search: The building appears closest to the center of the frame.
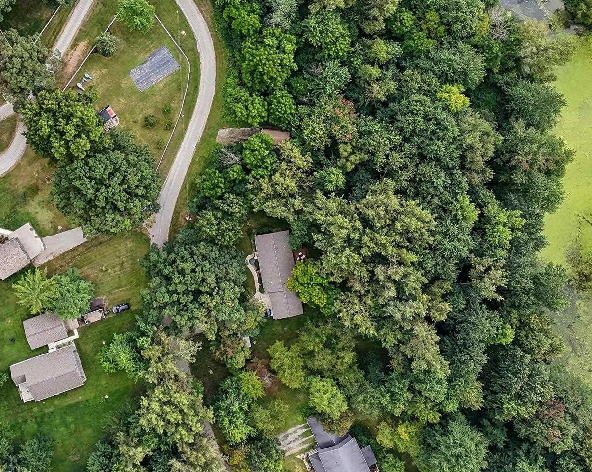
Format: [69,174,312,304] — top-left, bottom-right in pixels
[254,229,308,320]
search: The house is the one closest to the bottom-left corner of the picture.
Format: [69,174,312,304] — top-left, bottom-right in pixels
[10,344,84,404]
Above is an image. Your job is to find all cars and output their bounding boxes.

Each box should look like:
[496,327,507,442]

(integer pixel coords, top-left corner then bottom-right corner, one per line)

[113,303,129,314]
[261,304,273,322]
